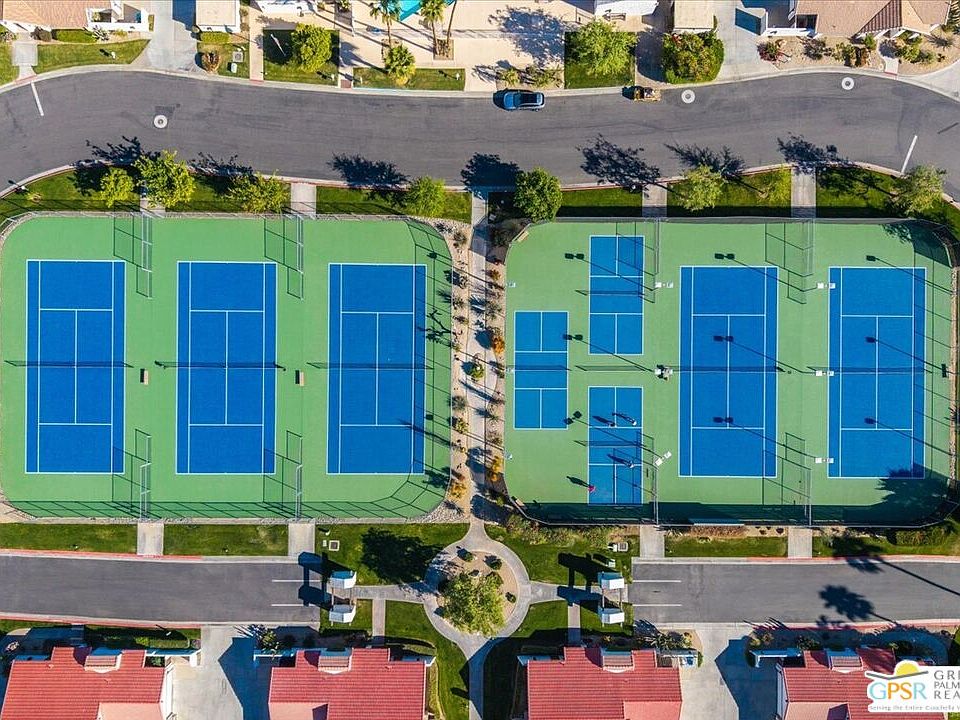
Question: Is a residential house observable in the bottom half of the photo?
Yes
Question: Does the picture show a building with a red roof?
Yes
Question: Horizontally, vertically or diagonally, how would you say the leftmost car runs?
horizontally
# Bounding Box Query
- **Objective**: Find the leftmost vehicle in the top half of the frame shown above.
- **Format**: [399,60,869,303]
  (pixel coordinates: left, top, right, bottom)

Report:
[502,91,547,112]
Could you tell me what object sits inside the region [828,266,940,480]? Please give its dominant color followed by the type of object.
blue tennis court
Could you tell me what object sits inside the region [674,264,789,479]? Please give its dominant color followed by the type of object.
blue tennis court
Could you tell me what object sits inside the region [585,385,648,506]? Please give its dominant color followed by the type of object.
blue sports court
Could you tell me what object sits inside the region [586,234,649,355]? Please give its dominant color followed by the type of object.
blue sports court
